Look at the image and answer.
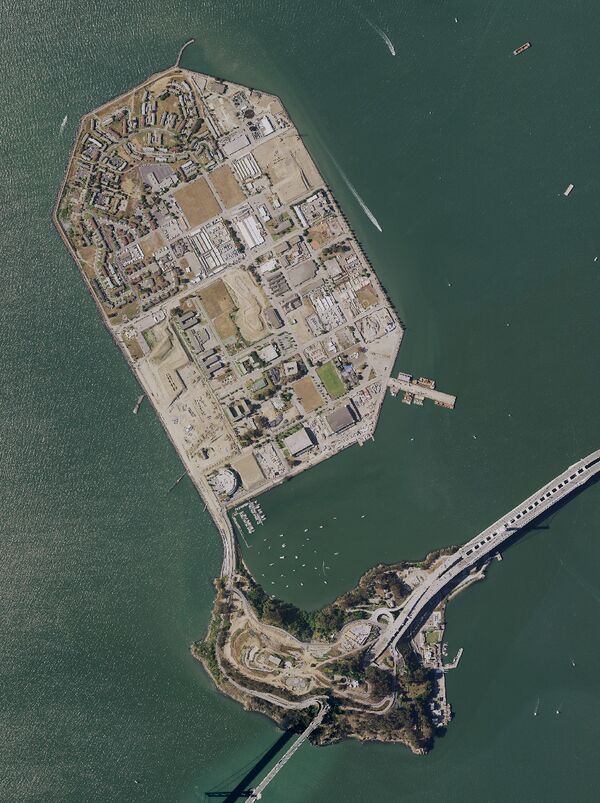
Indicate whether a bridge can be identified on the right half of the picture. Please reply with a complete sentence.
Yes, the scene does show a bridge on the right half of the picture.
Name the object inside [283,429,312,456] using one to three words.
hangar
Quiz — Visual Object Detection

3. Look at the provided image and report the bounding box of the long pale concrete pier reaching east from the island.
[389,378,456,403]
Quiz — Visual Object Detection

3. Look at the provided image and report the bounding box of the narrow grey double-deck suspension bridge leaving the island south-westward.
[244,700,330,803]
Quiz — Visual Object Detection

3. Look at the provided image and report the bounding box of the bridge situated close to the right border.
[370,449,600,661]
